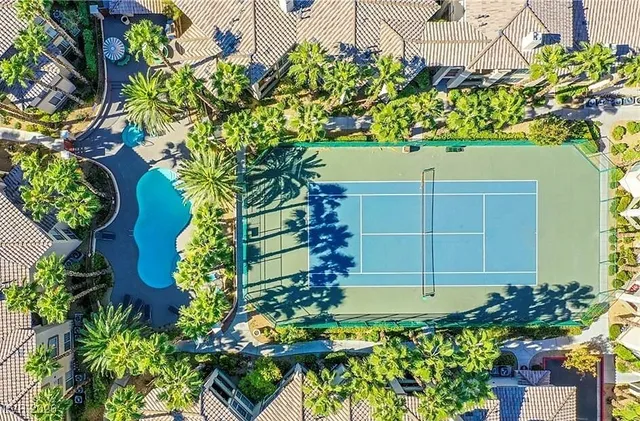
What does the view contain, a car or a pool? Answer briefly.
pool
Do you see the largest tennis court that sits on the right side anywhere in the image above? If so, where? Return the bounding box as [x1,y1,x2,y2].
[247,147,600,322]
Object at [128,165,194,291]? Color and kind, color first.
blue swimming pool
